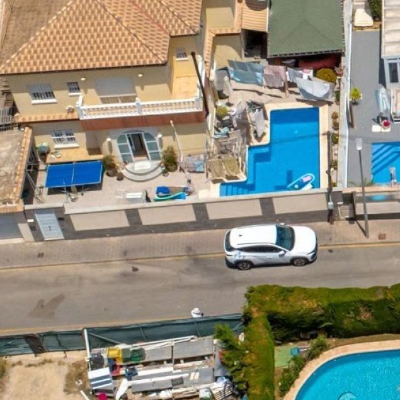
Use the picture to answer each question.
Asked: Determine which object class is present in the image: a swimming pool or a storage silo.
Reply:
swimming pool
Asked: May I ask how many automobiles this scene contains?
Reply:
1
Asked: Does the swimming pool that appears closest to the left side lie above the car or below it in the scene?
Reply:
above it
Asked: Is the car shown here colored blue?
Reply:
No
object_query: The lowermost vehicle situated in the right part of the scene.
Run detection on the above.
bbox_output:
[222,221,319,273]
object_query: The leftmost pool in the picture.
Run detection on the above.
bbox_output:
[212,103,327,202]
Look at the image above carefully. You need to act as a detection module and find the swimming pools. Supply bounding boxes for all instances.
[372,142,400,183]
[282,339,400,400]
[212,103,327,202]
